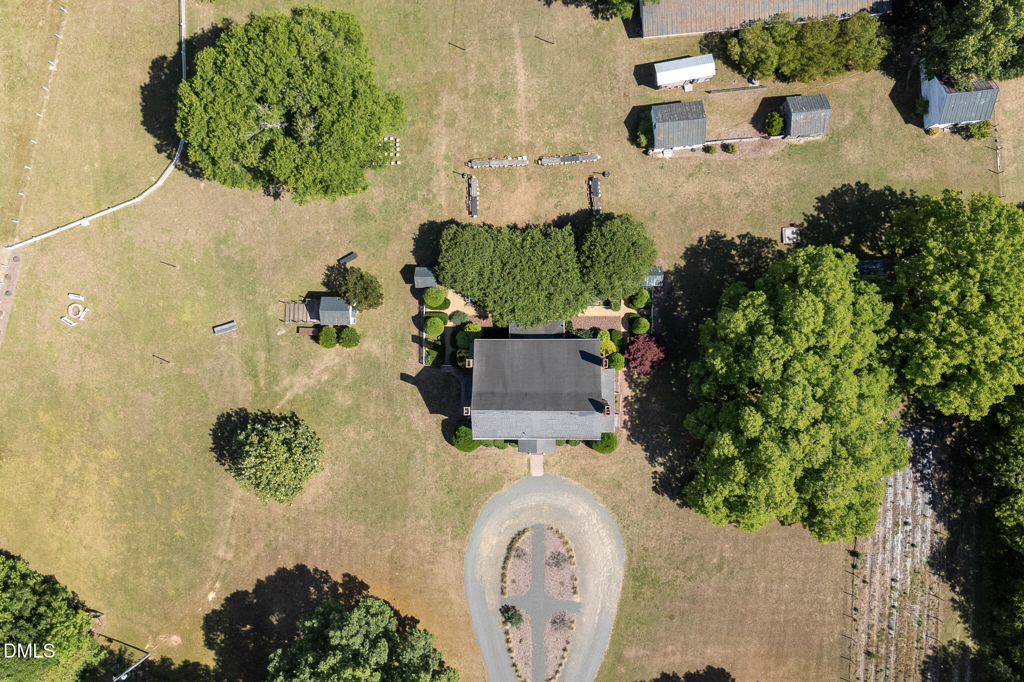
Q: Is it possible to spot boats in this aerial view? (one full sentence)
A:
No, there's no boat here.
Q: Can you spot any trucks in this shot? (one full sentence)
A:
No, there's no truck here.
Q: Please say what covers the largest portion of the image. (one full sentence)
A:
The scene is dominated by grass.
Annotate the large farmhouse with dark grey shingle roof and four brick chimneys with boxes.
[464,321,616,458]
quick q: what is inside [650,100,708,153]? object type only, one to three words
shed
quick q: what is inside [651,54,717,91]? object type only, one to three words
shed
